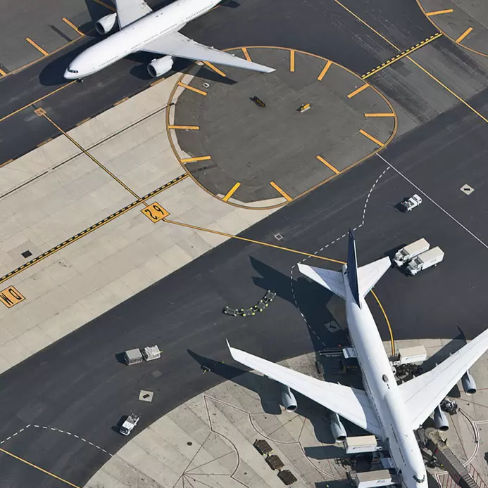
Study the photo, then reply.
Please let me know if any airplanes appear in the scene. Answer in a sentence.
Yes, I can see an airplane in this picture.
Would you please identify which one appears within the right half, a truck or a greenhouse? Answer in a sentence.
It is a truck that can be seen within the right half.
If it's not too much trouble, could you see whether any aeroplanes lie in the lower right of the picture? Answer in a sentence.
Yes, an aeroplane can be seen in the lower right of the picture.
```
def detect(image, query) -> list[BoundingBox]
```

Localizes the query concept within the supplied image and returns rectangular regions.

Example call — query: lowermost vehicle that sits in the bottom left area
[119,408,140,432]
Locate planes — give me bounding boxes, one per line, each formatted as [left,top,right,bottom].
[230,226,488,488]
[65,0,277,80]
